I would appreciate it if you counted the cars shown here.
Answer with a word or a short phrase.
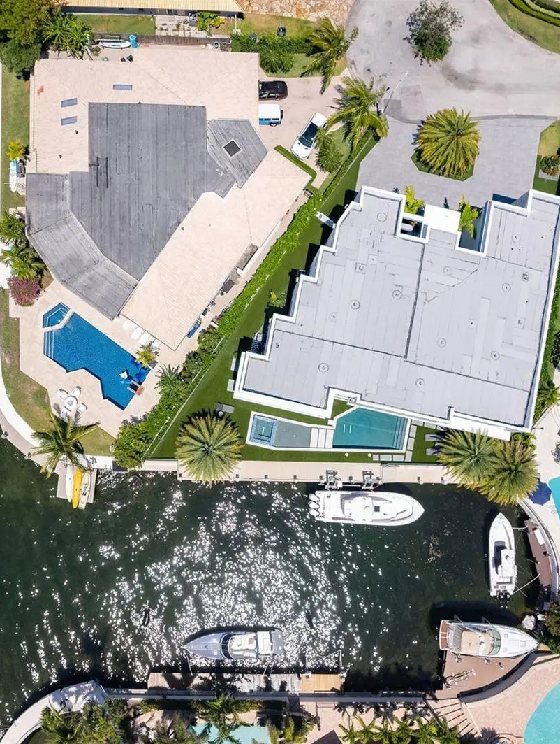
3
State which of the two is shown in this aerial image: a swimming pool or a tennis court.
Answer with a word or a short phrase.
swimming pool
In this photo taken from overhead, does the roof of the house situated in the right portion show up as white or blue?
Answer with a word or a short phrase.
white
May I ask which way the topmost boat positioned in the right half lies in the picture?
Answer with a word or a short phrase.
from side to side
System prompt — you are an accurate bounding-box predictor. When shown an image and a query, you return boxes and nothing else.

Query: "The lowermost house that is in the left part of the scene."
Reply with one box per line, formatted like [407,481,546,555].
[26,45,312,351]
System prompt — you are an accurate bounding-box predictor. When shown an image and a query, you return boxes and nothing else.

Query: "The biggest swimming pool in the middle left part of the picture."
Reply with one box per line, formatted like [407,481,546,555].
[41,309,151,414]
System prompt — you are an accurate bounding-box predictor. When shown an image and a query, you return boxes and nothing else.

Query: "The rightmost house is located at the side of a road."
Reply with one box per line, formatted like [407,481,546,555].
[234,187,560,441]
